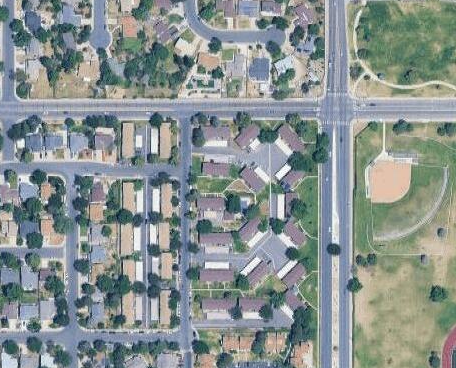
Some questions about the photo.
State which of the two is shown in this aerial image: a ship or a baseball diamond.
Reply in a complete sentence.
It is a baseball diamond that can be seen here.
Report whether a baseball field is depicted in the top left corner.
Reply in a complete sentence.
No, no baseball field appears in the top left corner.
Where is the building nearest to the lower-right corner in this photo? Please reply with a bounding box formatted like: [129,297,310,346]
[290,343,313,368]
